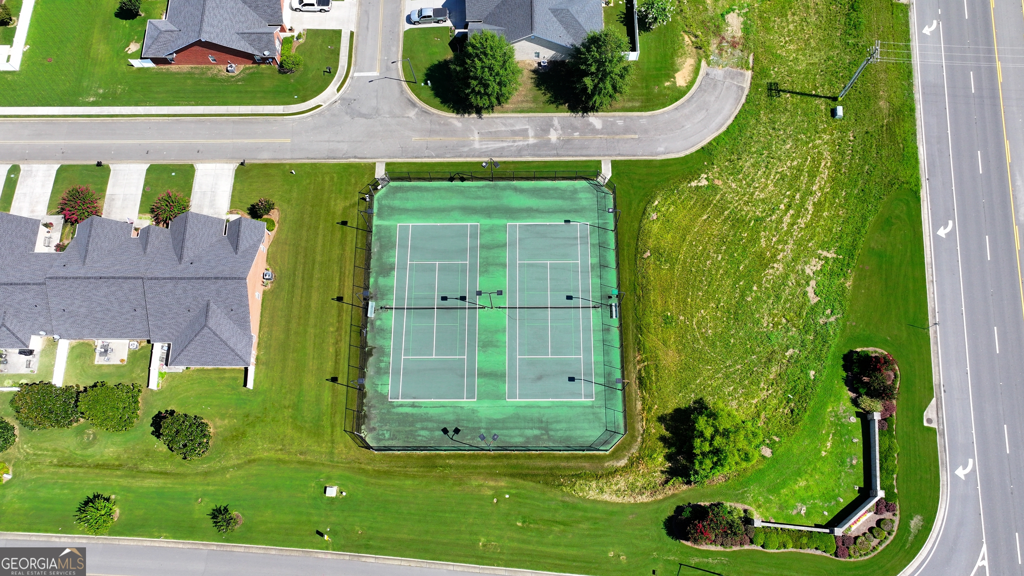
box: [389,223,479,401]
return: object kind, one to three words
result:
tennis court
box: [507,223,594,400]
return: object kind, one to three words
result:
tennis court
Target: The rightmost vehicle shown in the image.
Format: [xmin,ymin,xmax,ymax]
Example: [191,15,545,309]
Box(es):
[409,7,447,26]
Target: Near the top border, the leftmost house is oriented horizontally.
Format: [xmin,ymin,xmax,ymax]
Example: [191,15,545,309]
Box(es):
[141,0,288,66]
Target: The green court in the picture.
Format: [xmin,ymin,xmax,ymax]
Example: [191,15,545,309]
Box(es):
[361,180,625,452]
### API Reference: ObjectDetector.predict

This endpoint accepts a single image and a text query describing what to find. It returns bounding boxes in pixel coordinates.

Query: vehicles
[289,0,331,13]
[409,7,447,26]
